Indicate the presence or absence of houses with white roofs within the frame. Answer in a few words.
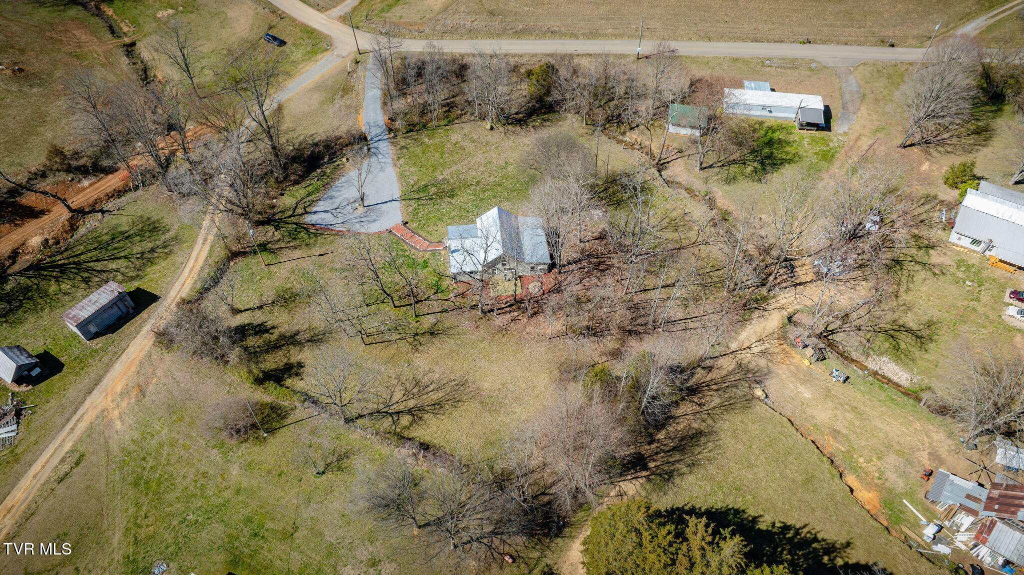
Yes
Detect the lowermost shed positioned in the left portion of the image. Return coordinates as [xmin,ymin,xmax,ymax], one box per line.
[0,345,46,391]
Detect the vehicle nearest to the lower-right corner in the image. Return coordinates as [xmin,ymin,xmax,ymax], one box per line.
[918,467,936,481]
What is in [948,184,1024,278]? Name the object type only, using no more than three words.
house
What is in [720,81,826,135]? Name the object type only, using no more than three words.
house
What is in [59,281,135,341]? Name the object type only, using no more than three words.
barn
